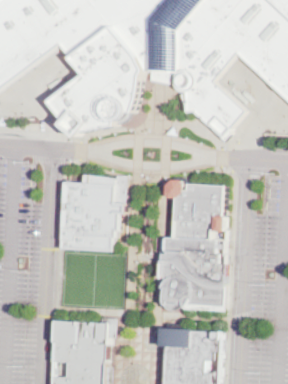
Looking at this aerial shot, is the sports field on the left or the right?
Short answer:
left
